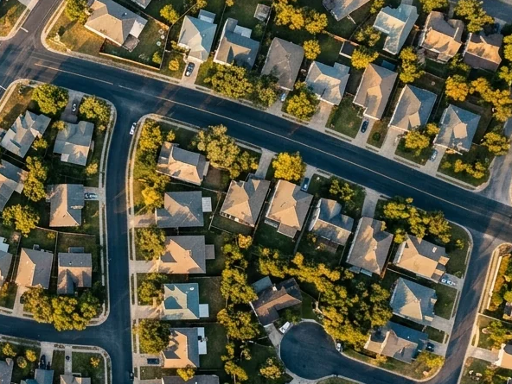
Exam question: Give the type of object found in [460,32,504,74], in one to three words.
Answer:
house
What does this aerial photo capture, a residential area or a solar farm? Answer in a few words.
residential area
